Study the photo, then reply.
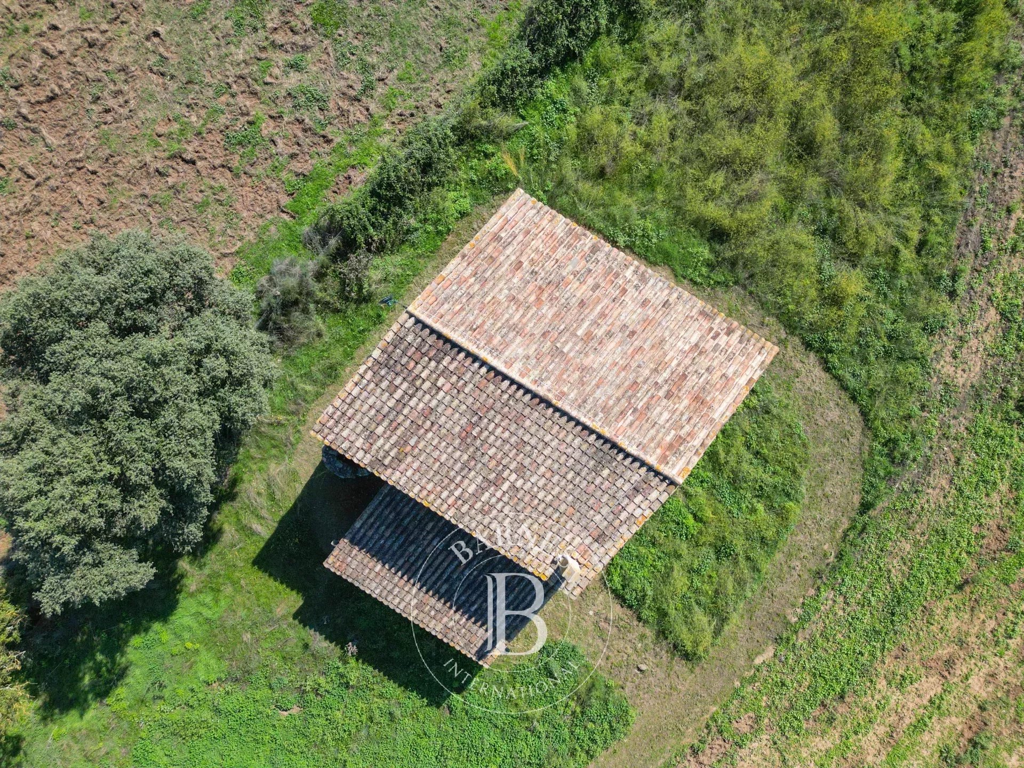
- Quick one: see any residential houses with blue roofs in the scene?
No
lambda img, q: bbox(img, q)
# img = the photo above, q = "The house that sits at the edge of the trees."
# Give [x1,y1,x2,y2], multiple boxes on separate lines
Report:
[312,187,778,668]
